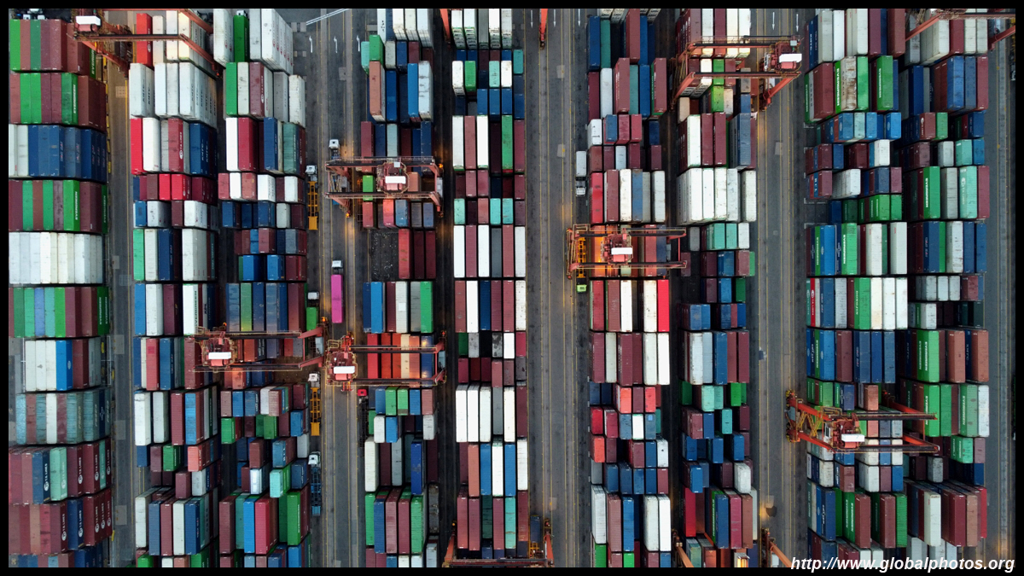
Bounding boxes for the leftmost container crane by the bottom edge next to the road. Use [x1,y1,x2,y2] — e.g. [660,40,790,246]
[429,514,558,576]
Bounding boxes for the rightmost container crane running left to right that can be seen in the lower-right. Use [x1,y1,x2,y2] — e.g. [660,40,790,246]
[786,386,943,455]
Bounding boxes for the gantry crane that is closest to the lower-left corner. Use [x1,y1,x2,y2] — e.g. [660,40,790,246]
[184,315,330,374]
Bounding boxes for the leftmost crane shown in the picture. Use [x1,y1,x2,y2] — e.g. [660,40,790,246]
[61,0,221,82]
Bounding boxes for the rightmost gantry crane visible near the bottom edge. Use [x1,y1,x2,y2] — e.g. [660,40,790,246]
[672,527,808,576]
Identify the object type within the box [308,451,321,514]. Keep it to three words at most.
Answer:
vehicle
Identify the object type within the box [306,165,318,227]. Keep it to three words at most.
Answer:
vehicle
